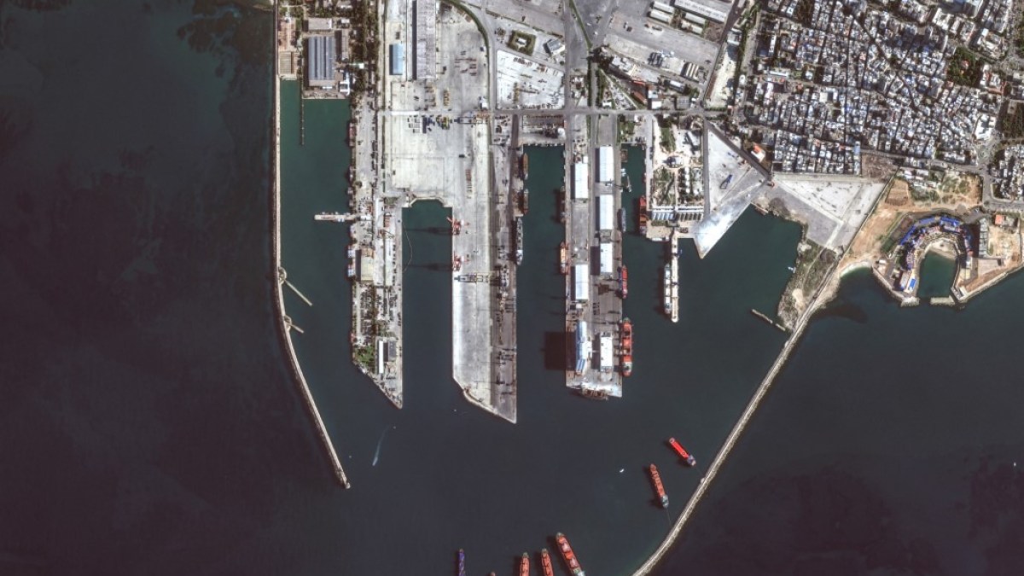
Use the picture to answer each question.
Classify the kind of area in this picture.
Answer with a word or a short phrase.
port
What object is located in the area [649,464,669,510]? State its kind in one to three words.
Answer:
ship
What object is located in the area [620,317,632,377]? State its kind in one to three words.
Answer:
ship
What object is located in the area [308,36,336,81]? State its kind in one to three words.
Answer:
building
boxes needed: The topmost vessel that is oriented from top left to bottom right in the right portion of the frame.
[672,436,695,468]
